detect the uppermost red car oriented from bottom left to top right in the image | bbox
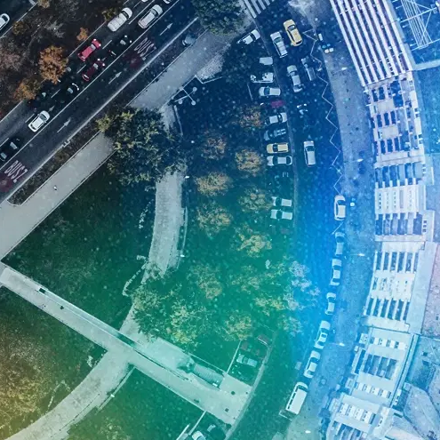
[78,38,103,62]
